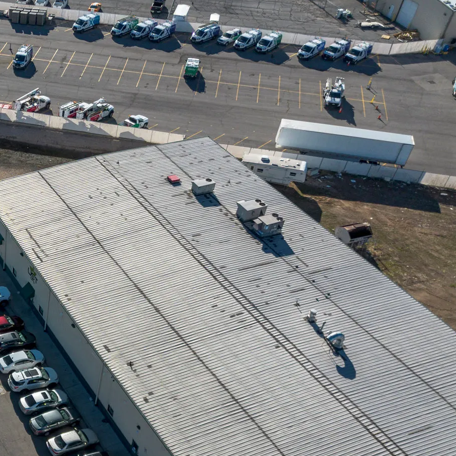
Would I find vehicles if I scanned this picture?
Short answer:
Yes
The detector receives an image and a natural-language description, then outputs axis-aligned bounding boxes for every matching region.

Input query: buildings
[367,0,456,38]
[0,139,456,456]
